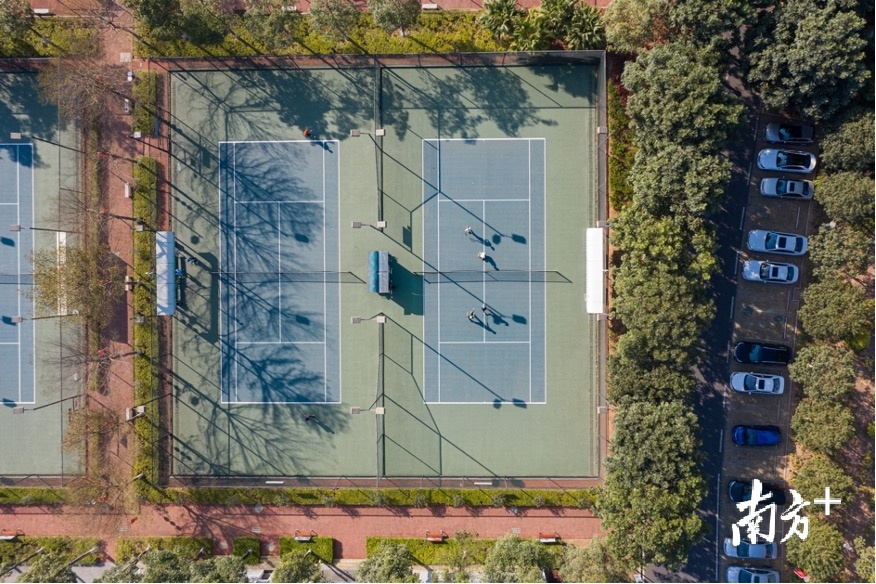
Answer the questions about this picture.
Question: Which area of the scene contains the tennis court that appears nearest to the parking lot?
center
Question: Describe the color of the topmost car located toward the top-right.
black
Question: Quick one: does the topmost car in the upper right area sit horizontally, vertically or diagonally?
horizontally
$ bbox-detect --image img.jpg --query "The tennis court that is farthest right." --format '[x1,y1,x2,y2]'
[381,62,597,478]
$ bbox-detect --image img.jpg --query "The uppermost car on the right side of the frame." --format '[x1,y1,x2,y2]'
[760,120,816,146]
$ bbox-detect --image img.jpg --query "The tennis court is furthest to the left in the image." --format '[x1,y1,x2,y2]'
[0,70,83,474]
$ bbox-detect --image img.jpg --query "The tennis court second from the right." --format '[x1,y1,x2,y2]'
[169,66,383,476]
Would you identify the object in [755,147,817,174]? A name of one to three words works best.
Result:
car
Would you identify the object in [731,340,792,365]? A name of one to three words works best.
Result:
car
